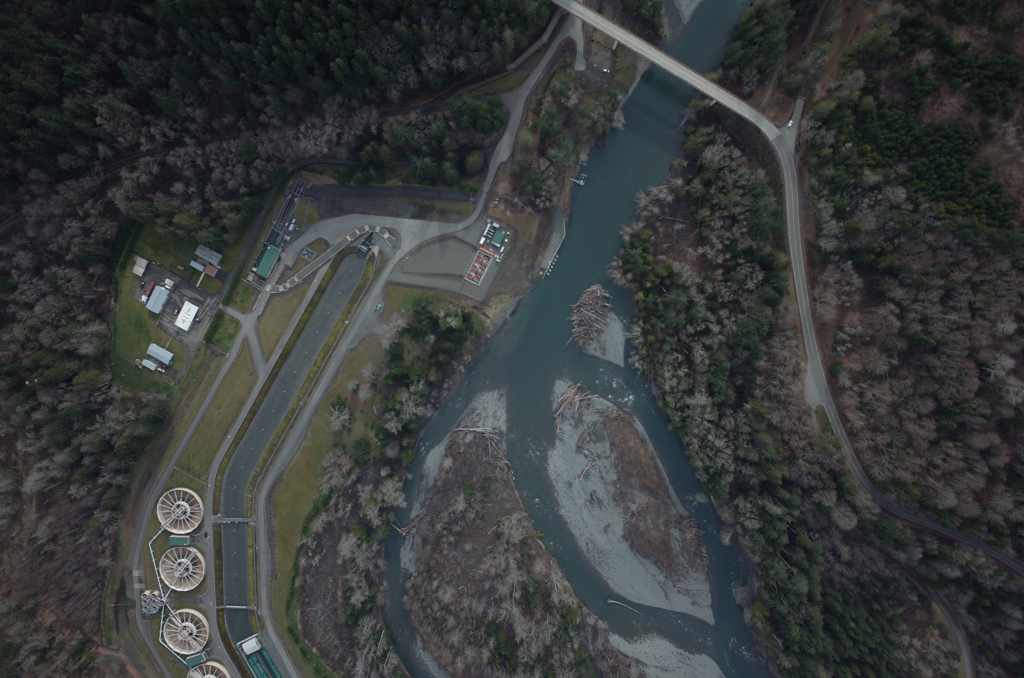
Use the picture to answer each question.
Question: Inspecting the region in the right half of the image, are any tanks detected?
No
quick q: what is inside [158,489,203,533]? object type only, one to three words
storage tank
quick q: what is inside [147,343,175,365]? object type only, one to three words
house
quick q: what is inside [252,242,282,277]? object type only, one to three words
building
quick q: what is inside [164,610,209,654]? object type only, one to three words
storage tank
